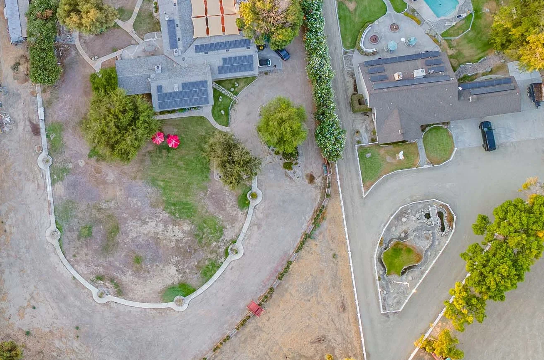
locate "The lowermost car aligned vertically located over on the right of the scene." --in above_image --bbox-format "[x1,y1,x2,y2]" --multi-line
[479,121,497,152]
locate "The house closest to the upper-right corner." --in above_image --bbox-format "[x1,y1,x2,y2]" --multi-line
[355,52,522,143]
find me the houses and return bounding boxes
[116,0,258,112]
[355,52,522,143]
